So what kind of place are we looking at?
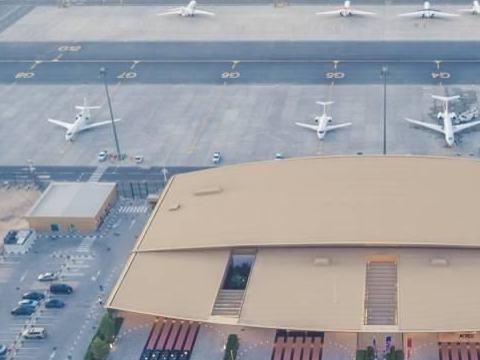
airport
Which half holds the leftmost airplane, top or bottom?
top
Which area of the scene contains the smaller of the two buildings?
left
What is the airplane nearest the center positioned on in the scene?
apron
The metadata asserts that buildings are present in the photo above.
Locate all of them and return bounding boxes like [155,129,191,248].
[21,181,118,235]
[103,155,480,334]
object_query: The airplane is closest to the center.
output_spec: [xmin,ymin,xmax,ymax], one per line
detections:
[295,101,351,143]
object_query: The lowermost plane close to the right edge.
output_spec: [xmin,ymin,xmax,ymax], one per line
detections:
[405,96,480,146]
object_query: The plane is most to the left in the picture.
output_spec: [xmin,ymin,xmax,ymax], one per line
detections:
[47,97,121,141]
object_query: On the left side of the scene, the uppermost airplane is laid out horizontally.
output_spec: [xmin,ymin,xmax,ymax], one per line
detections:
[154,2,215,18]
